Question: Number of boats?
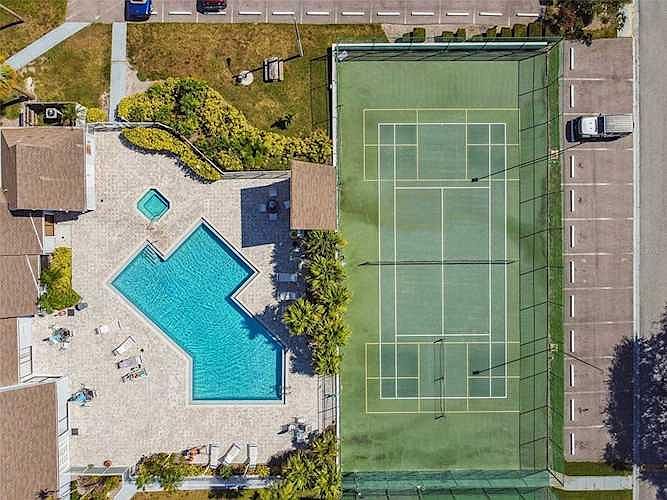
0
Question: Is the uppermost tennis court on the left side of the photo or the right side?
right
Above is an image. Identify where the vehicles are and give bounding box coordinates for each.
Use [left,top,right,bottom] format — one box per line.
[205,0,227,10]
[132,0,157,19]
[565,113,633,141]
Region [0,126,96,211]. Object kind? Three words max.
building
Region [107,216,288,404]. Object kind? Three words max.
swimming pool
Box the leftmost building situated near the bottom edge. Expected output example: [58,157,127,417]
[0,376,68,500]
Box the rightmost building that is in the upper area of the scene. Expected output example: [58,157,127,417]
[290,160,335,230]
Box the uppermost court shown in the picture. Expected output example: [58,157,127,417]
[337,45,549,469]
